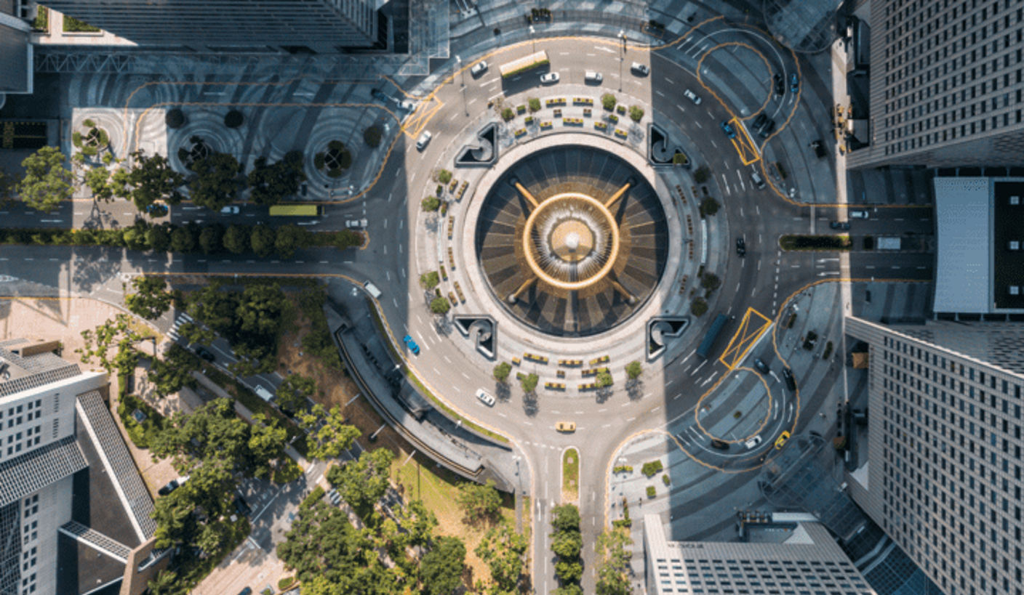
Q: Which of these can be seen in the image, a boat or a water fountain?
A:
water fountain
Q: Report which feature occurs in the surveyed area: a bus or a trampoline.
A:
bus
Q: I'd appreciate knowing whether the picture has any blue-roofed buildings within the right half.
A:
Yes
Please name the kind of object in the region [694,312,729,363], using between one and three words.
bus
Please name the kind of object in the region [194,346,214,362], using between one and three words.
car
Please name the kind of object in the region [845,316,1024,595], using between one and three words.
building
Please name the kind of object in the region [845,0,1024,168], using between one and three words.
building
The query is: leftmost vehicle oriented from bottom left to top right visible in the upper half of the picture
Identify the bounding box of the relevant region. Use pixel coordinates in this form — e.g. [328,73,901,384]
[415,130,431,149]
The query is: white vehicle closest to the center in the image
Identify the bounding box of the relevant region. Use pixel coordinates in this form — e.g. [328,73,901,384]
[475,390,494,406]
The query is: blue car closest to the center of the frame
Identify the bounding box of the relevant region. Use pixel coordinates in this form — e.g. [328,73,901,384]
[403,335,419,354]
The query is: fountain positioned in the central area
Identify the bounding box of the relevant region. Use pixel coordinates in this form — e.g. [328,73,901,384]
[462,131,682,351]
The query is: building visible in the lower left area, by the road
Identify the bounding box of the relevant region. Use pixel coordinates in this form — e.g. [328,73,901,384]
[0,335,179,595]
